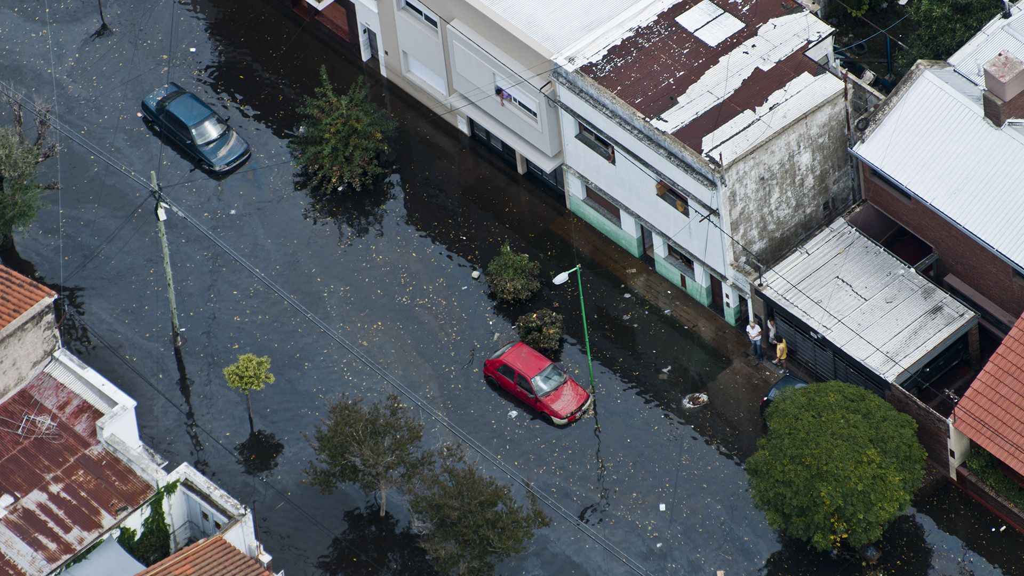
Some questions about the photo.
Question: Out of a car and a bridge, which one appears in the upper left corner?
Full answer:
What appears in the upper left corner is a car.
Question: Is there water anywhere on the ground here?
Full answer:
Yes, water shows up in the scene.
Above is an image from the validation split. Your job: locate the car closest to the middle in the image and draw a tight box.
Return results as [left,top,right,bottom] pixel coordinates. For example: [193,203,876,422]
[483,344,592,425]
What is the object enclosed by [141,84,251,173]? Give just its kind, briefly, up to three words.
car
